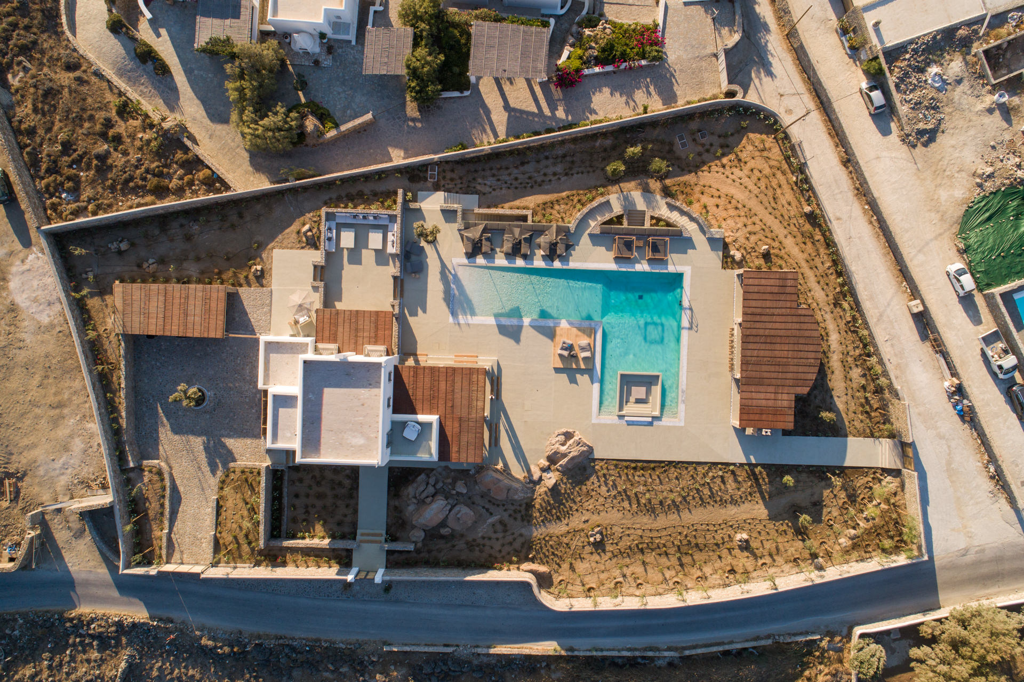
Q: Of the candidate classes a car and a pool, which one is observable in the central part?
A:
pool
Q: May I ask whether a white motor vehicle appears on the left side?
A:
No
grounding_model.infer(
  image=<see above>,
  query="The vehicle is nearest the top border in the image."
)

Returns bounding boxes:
[859,75,891,116]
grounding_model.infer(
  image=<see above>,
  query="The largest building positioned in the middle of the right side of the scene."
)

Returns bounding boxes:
[730,266,824,433]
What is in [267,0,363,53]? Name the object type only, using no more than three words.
house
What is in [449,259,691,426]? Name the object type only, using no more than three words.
swimming pool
